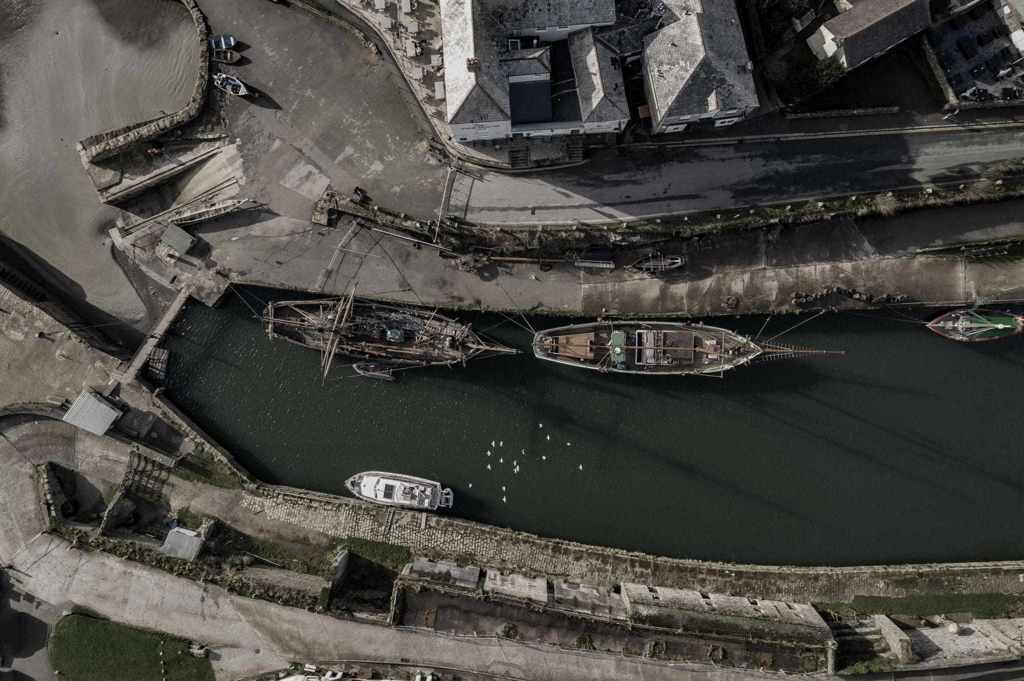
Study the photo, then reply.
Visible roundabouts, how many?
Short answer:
zero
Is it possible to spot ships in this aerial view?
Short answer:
Yes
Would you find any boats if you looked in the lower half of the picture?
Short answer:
Yes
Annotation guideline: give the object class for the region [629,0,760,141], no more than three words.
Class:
house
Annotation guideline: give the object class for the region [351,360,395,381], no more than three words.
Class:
boat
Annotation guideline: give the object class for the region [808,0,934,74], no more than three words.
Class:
house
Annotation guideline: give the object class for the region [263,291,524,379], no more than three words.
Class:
ship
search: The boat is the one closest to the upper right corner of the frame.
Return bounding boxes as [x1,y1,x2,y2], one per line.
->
[917,308,1024,342]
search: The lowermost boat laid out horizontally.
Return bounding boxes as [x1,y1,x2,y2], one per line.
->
[344,471,450,512]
